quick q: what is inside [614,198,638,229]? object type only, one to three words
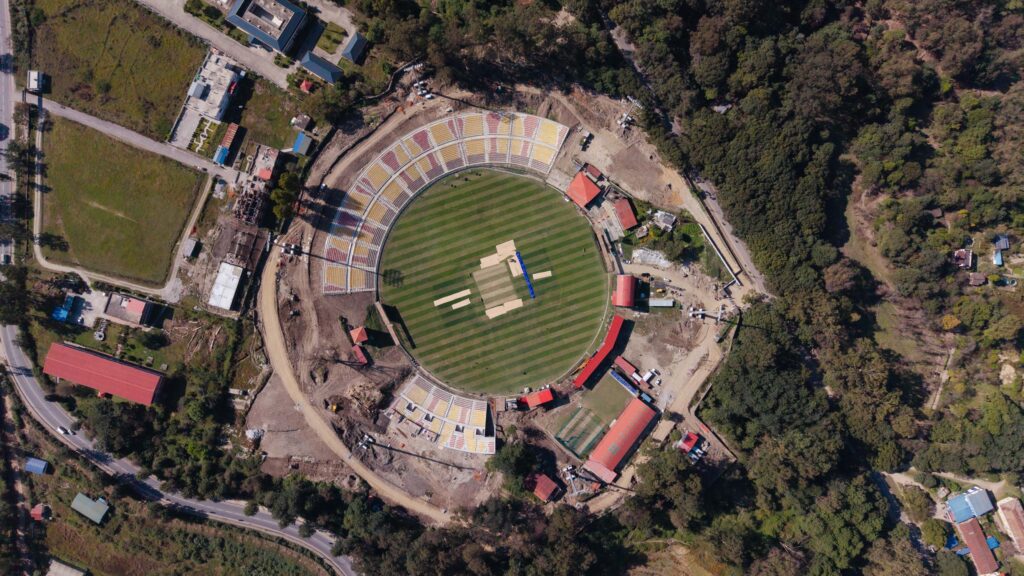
building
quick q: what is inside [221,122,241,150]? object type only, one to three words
shed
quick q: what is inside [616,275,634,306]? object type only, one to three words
house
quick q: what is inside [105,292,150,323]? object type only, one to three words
house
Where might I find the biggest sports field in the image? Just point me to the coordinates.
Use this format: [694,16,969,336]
[379,168,609,394]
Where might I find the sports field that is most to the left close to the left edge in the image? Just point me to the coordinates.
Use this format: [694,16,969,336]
[42,112,206,287]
